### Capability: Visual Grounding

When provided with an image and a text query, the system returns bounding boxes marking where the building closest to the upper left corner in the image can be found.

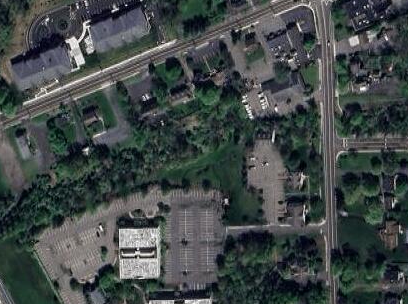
[10,45,72,90]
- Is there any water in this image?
No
